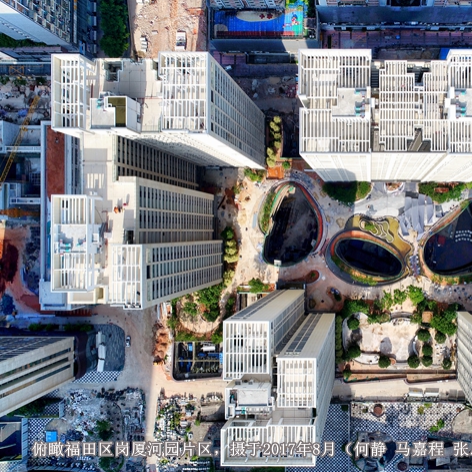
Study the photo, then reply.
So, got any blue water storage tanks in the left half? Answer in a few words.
No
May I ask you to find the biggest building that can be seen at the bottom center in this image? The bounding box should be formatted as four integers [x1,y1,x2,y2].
[223,291,337,465]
